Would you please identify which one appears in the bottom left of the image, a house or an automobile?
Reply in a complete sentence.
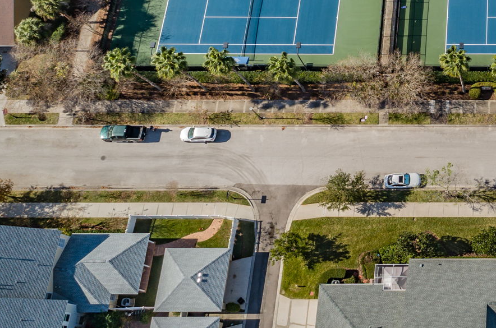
You can see a house in the bottom left of the image.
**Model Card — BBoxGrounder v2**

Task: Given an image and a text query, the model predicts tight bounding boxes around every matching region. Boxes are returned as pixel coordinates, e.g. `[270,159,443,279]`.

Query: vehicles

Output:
[384,172,423,190]
[180,126,217,144]
[98,125,147,143]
